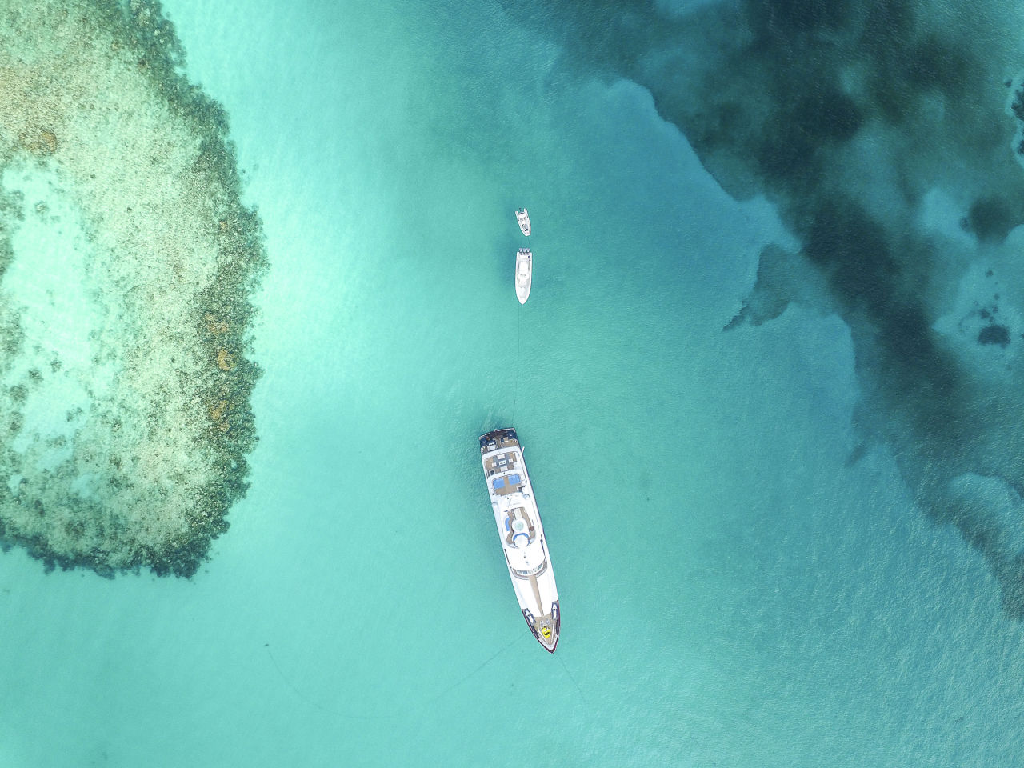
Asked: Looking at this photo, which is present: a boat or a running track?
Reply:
boat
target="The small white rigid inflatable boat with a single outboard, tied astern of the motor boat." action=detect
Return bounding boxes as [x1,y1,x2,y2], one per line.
[515,207,531,235]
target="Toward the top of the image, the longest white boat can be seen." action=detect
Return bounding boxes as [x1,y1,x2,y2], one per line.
[515,247,532,302]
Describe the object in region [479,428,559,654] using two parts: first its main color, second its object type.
white boat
